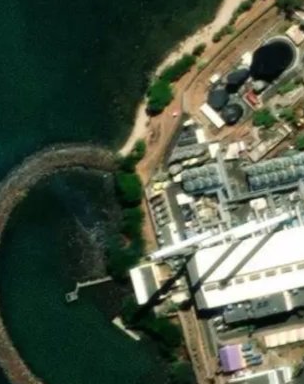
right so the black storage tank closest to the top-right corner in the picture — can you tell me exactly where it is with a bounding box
[252,39,295,77]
